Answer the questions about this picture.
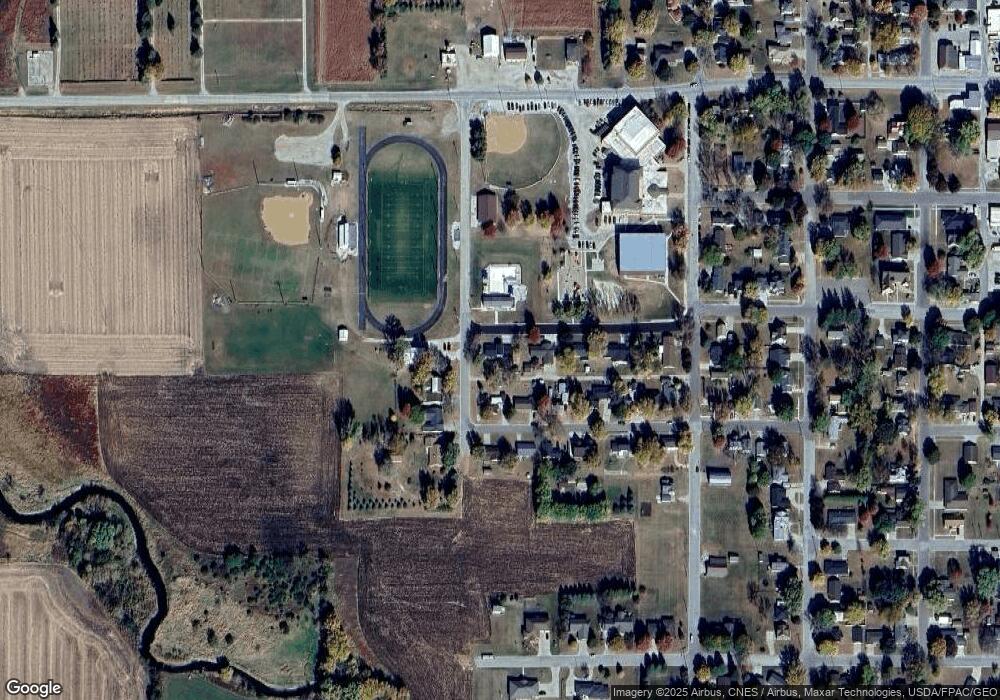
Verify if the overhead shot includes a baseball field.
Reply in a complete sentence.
Yes, the picture does show a baseball field.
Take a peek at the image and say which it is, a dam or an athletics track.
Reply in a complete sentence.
This aerial view contains an athletics track.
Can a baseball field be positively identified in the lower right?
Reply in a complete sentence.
No, no baseball field is visible in the lower right.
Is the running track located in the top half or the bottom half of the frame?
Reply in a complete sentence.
The top half of the photo is where the running track is.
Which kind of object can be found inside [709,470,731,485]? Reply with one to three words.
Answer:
building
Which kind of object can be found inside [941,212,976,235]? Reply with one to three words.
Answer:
house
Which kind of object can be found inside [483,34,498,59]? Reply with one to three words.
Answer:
barn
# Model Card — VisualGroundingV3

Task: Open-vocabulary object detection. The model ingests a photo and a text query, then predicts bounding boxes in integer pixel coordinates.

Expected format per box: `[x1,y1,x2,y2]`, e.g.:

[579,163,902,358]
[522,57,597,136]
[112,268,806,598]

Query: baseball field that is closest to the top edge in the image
[485,112,562,188]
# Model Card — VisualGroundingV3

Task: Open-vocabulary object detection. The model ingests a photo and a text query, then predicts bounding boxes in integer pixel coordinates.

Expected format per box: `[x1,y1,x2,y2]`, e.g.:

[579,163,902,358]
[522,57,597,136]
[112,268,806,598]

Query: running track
[359,127,447,339]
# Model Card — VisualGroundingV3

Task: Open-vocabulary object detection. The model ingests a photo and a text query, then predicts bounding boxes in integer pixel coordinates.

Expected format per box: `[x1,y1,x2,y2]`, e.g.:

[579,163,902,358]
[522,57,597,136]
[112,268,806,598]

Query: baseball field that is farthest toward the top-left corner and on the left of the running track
[261,190,314,246]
